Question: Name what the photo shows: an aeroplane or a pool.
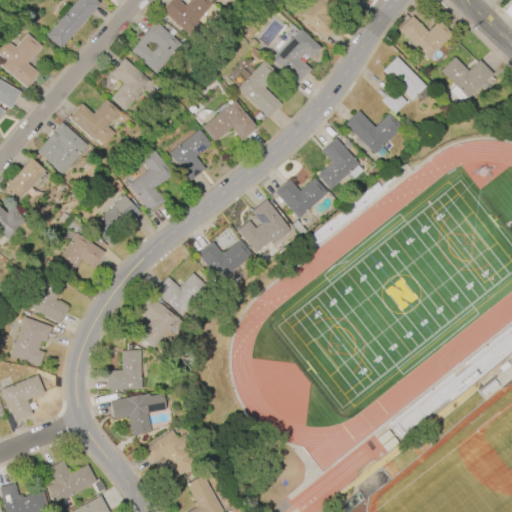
pool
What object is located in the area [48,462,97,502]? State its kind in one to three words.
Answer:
house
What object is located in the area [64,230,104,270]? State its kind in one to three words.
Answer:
house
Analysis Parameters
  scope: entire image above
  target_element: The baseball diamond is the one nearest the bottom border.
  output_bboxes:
[371,389,512,512]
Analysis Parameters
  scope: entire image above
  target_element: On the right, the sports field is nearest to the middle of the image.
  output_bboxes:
[266,168,512,419]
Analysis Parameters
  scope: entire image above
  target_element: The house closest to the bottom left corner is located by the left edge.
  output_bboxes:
[2,484,46,512]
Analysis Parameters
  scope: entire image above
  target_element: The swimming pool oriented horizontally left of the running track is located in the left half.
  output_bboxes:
[150,412,170,424]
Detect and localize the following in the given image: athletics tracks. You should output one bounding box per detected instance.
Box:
[226,135,512,472]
